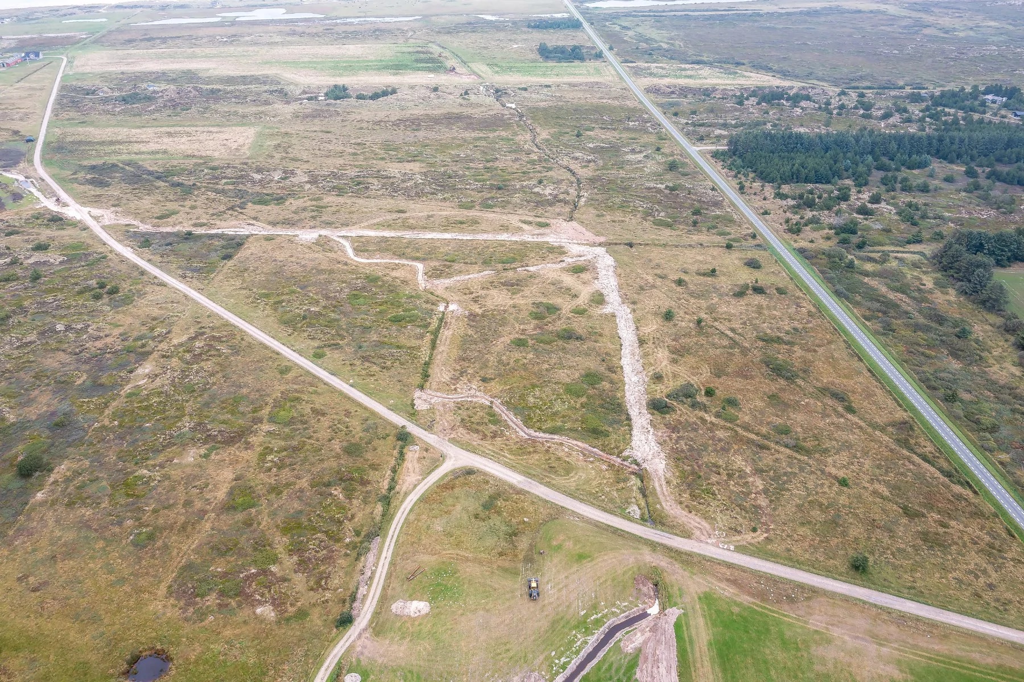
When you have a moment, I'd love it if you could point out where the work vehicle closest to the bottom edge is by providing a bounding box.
[527,578,539,599]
